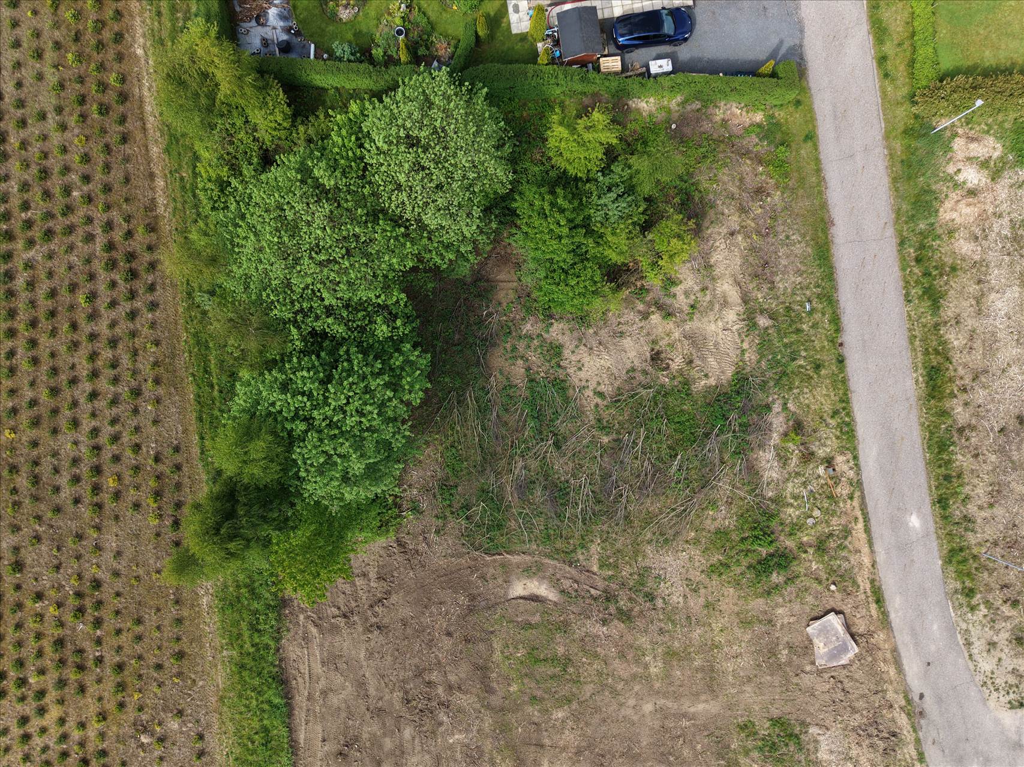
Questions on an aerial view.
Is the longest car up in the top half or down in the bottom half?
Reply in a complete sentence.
Seen from above, the longest car lies in the top half of the view.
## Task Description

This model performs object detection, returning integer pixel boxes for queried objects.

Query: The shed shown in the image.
[556,4,603,72]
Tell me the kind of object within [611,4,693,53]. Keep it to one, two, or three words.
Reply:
car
